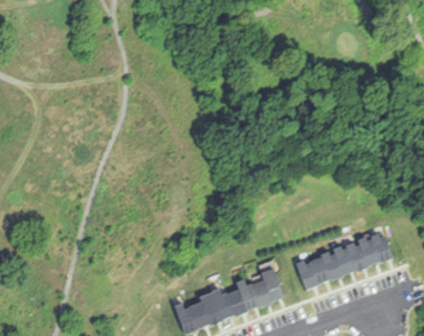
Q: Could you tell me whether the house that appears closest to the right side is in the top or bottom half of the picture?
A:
bottom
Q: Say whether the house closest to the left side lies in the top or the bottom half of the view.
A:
bottom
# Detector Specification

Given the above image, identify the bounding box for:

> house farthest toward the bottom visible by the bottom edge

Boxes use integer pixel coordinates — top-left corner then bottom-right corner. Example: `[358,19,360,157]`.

[174,270,283,335]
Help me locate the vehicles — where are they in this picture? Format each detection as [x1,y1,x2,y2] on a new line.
[306,316,318,324]
[254,324,262,336]
[265,320,272,331]
[287,312,294,322]
[398,272,404,283]
[414,290,424,297]
[414,284,424,290]
[348,326,360,336]
[242,328,248,336]
[370,282,376,292]
[248,326,254,336]
[280,314,287,324]
[402,290,412,300]
[363,284,370,294]
[352,288,358,298]
[298,308,306,319]
[416,296,424,303]
[329,328,340,335]
[330,296,337,307]
[341,292,348,303]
